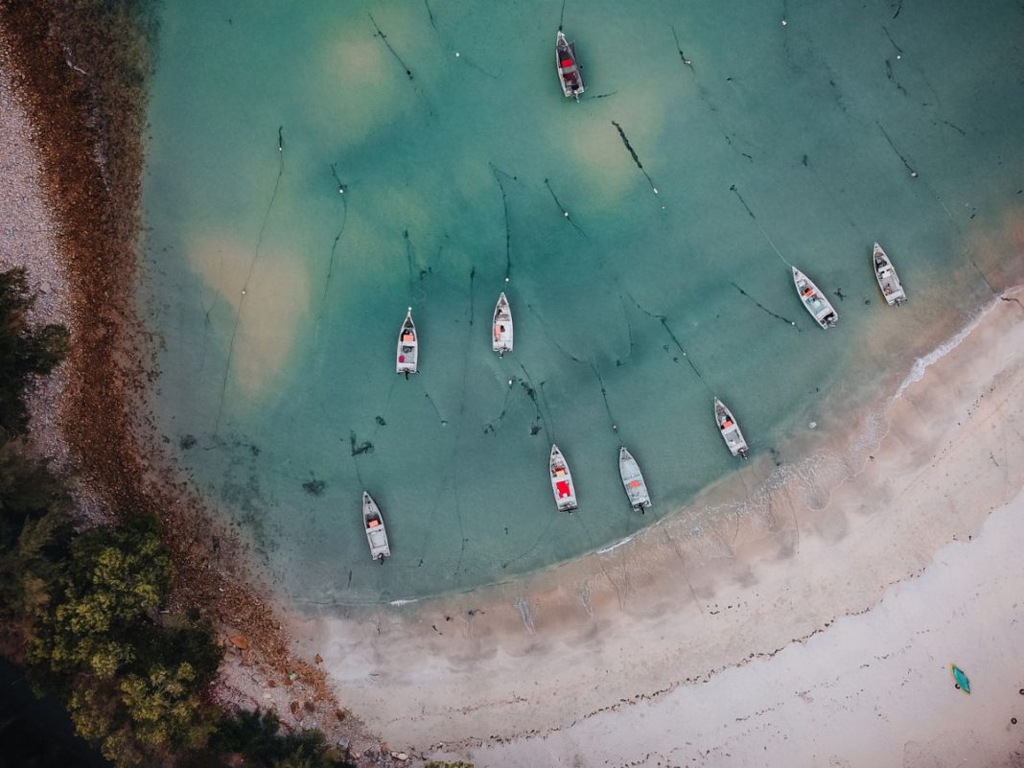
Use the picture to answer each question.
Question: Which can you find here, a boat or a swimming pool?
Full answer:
Looking from above, you can make out a boat.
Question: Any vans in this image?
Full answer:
No, the scene contains no van.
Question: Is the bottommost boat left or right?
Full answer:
The bottommost boat appears in the right half of the scene.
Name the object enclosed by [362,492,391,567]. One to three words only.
boat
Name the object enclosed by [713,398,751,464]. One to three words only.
boat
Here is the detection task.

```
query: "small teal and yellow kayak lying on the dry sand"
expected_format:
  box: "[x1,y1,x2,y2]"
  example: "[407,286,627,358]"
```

[956,667,976,696]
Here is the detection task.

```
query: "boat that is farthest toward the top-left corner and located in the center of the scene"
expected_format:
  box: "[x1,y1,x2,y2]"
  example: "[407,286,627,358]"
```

[396,309,418,385]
